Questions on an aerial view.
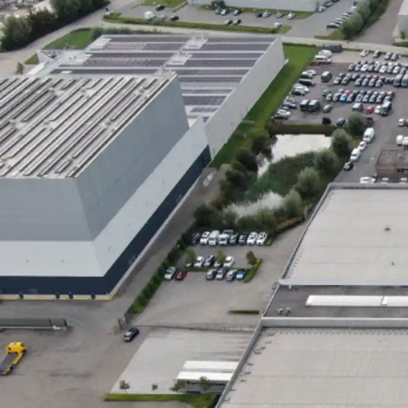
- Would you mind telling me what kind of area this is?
industrial area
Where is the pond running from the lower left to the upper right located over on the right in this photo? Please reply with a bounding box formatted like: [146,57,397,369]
[232,135,333,217]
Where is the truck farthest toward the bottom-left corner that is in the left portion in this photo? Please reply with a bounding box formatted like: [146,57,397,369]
[0,336,23,367]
